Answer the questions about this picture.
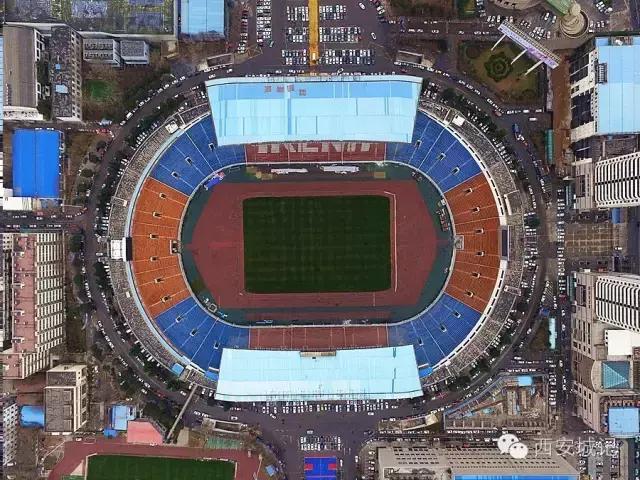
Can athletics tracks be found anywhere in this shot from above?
Yes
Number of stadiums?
1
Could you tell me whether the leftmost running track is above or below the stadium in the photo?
below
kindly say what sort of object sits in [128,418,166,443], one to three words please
building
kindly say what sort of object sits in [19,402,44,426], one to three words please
shed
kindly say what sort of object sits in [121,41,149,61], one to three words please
building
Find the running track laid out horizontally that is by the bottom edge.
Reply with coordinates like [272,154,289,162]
[44,441,262,480]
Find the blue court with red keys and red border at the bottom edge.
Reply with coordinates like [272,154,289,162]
[304,454,336,480]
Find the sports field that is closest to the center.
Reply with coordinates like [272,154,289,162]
[244,195,391,293]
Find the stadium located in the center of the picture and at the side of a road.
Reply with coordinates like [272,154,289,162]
[108,75,526,402]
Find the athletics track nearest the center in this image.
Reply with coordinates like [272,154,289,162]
[184,165,451,325]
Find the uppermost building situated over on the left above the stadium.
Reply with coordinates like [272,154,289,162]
[180,0,228,39]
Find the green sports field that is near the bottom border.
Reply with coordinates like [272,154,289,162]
[88,454,236,480]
